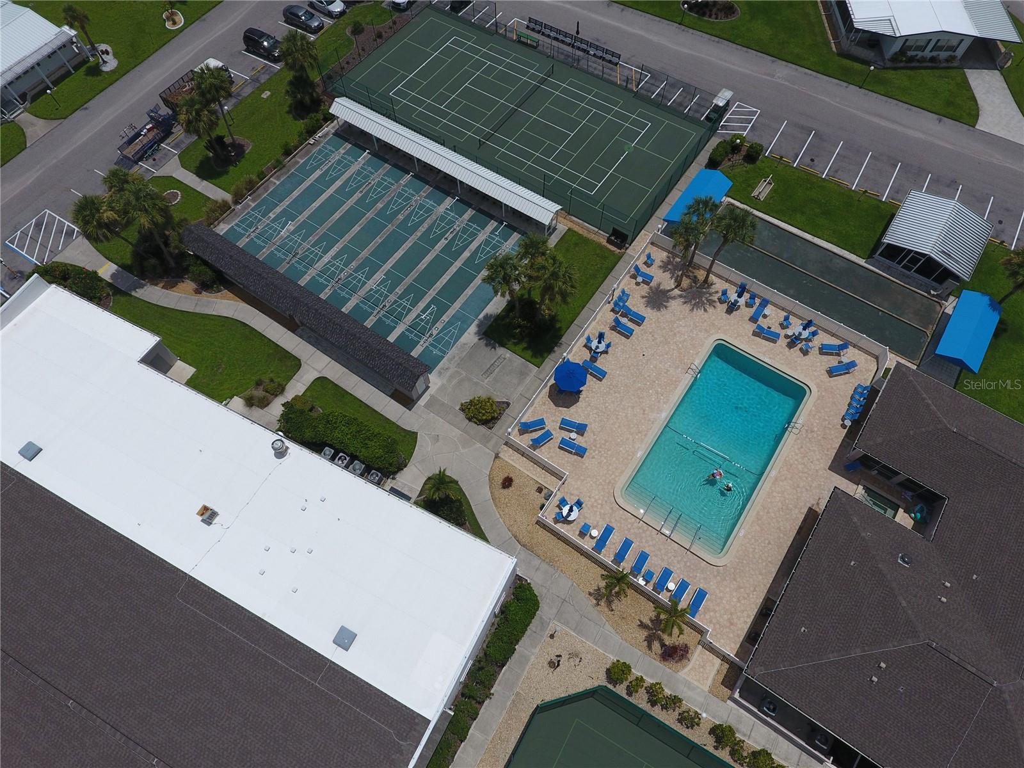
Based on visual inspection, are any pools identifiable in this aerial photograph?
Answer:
Yes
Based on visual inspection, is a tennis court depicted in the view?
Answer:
Yes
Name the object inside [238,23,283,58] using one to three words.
car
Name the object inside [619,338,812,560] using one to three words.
swimming pool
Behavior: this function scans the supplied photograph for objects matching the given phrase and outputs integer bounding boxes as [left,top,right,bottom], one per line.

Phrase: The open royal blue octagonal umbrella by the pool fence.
[552,360,588,394]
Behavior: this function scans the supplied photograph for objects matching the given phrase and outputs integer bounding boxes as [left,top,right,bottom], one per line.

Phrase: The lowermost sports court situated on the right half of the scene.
[496,688,735,768]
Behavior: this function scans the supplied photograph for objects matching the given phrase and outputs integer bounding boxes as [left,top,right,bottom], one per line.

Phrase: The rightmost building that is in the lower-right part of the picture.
[727,360,1024,768]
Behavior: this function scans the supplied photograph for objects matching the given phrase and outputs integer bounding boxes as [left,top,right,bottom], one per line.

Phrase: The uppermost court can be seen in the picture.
[340,7,708,227]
